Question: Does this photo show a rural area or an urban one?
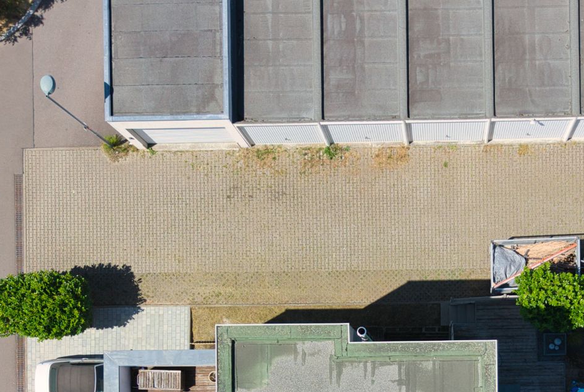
urban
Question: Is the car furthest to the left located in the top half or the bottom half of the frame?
bottom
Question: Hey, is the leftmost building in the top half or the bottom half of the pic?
top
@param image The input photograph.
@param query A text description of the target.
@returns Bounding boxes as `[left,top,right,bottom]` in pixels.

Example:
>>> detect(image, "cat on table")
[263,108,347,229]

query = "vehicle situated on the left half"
[35,349,104,392]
